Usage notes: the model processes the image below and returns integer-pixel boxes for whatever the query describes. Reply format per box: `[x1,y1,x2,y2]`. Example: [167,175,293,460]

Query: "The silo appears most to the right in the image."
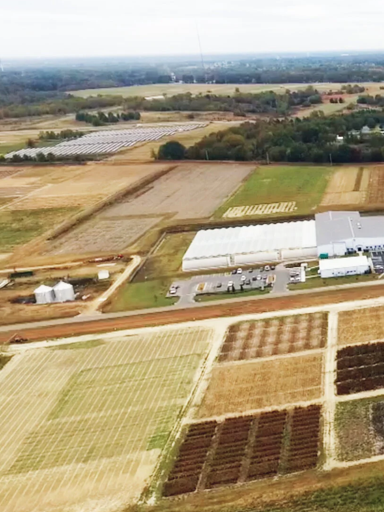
[54,278,82,302]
